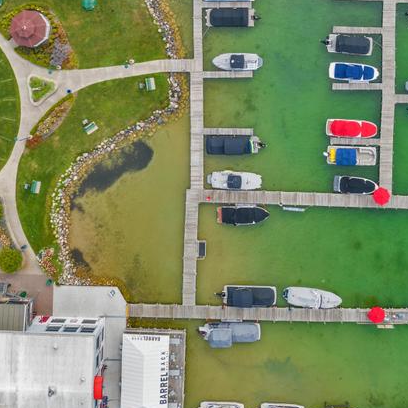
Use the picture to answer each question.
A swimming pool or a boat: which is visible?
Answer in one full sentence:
I can see a boat in this picture.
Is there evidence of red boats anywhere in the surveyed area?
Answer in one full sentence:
Yes, the image includes a red boat.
